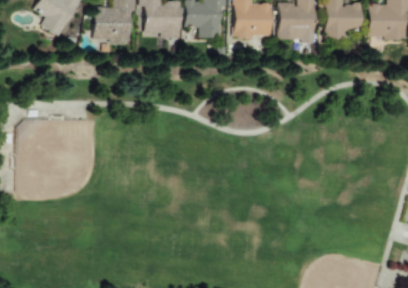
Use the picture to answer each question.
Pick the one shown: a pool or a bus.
pool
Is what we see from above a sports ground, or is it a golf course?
sports ground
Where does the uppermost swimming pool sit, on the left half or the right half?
left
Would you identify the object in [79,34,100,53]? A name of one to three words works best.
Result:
swimming pool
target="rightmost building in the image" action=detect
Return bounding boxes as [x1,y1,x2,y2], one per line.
[368,0,408,41]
